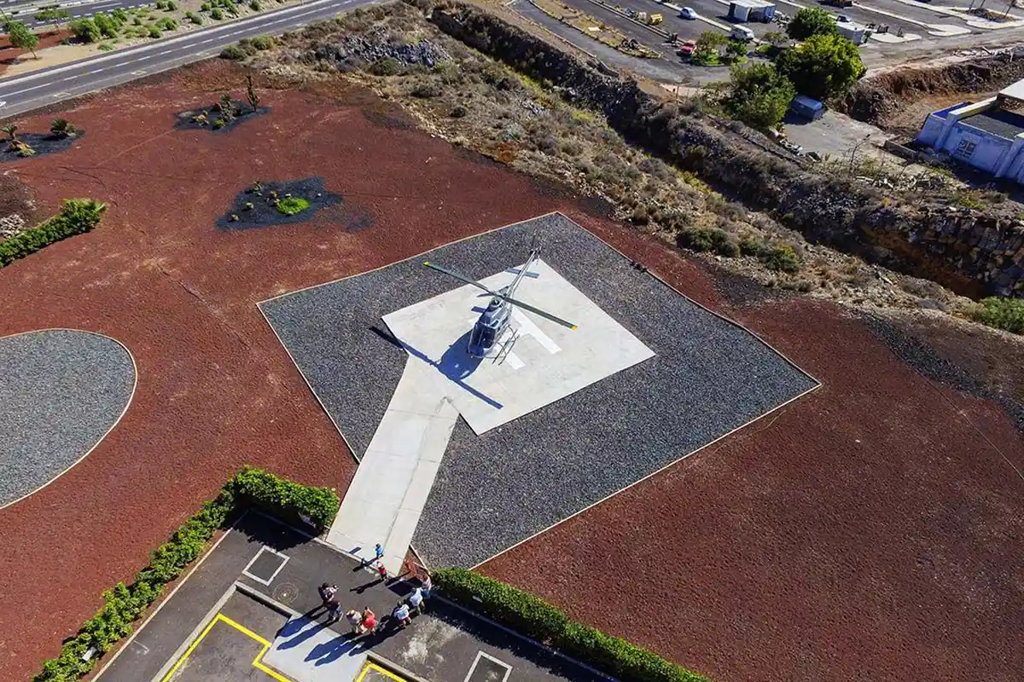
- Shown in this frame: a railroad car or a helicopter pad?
helicopter pad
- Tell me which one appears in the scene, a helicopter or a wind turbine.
helicopter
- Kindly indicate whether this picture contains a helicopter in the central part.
Yes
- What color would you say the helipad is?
white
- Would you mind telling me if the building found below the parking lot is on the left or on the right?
right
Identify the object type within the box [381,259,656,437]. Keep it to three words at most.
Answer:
helipad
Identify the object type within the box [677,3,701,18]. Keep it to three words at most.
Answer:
car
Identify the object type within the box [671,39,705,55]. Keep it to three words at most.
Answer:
car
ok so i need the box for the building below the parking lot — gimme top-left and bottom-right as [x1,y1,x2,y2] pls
[918,95,1024,187]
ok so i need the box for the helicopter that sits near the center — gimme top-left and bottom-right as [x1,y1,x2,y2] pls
[423,235,575,365]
